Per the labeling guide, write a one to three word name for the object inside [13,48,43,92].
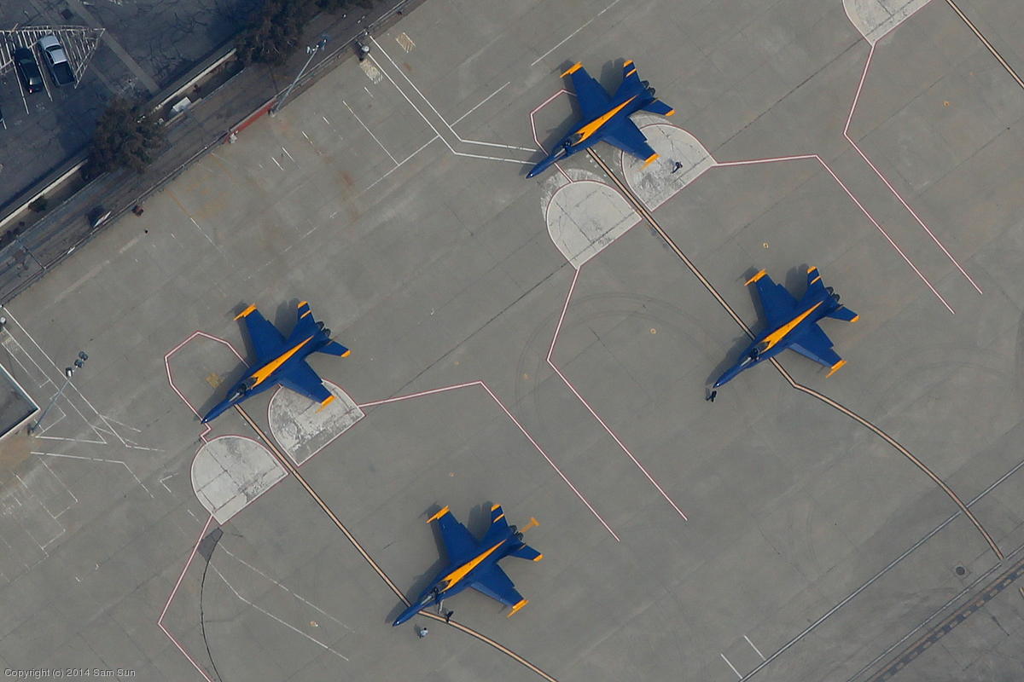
car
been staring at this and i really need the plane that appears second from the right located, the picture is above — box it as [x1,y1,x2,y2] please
[527,59,675,177]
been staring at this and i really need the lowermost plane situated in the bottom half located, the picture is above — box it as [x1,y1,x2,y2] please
[393,504,543,626]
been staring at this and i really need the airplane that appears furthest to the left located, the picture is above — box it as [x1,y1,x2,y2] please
[202,301,351,423]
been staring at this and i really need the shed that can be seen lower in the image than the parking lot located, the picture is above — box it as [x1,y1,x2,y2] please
[0,364,38,441]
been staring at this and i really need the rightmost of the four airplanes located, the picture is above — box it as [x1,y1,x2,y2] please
[714,266,860,387]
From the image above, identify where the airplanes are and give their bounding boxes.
[202,301,351,423]
[393,504,543,626]
[714,266,860,387]
[527,59,675,177]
